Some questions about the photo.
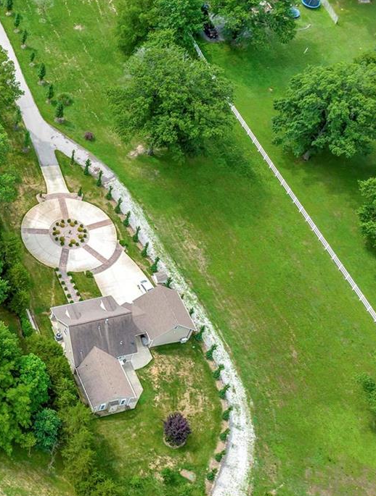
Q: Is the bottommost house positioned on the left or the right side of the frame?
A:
left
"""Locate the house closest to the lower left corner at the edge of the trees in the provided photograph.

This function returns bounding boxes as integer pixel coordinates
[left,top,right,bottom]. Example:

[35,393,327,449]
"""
[51,285,197,418]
